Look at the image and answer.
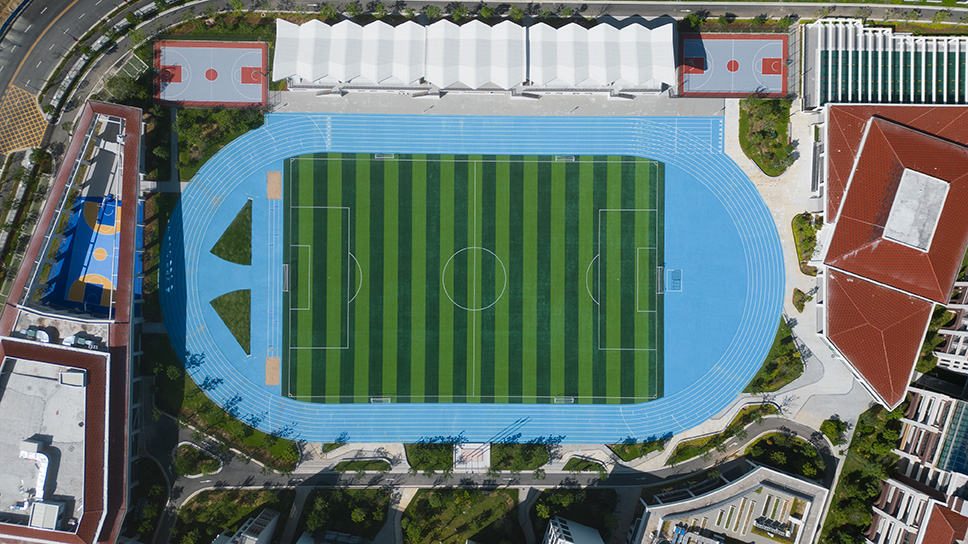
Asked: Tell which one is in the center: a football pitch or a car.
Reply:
football pitch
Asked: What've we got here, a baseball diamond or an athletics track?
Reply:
athletics track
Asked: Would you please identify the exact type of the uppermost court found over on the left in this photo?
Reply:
basketball court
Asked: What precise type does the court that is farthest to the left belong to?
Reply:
basketball court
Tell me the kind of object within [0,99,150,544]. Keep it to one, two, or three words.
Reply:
building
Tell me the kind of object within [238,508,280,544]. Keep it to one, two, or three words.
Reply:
building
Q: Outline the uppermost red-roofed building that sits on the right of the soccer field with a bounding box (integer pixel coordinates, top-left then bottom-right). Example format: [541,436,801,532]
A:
[808,103,968,412]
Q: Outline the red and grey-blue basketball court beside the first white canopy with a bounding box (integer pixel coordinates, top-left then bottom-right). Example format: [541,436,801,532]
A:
[153,41,268,106]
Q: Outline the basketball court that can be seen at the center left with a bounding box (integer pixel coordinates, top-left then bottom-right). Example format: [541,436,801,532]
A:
[69,202,119,307]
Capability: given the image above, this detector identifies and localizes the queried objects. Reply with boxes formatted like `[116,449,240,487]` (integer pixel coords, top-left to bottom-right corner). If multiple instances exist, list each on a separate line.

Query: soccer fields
[282,150,666,405]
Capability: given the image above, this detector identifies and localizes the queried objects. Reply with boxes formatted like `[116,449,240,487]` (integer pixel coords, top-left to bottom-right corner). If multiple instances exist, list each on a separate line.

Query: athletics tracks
[159,112,784,444]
